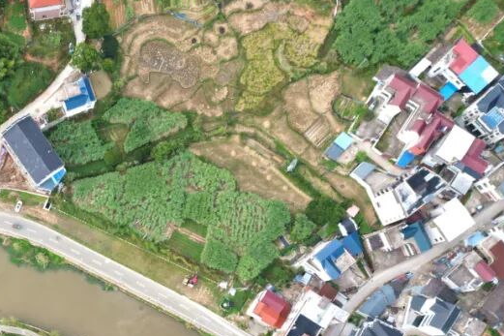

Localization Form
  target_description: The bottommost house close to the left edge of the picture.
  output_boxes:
[3,115,66,191]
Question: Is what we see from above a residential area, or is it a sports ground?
residential area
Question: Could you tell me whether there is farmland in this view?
Yes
